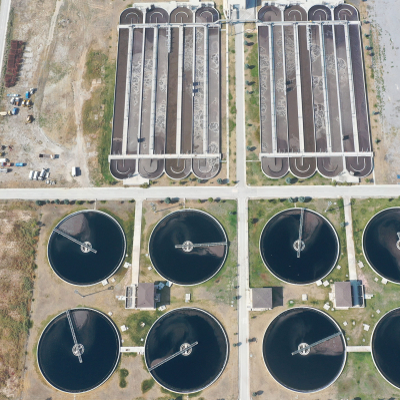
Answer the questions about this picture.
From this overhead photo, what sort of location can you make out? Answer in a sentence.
This looks like an industrial area.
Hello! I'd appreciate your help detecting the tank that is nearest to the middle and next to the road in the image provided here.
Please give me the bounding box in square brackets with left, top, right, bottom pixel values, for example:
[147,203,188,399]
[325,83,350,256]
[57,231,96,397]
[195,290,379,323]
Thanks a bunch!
[148,209,228,286]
